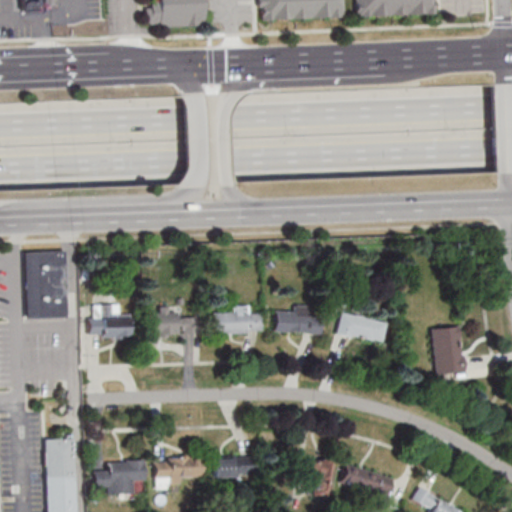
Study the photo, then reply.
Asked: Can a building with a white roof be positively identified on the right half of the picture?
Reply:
Yes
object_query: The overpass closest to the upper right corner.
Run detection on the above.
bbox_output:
[488,84,512,174]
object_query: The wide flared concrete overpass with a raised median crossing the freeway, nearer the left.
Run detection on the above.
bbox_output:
[162,84,259,199]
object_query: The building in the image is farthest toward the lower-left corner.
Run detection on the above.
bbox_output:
[46,438,78,512]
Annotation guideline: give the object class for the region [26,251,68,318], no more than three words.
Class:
building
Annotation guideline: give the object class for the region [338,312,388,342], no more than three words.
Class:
house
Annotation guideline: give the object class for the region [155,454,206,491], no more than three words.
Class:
house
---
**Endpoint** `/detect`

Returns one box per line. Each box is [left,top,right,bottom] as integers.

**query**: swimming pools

[154,494,168,508]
